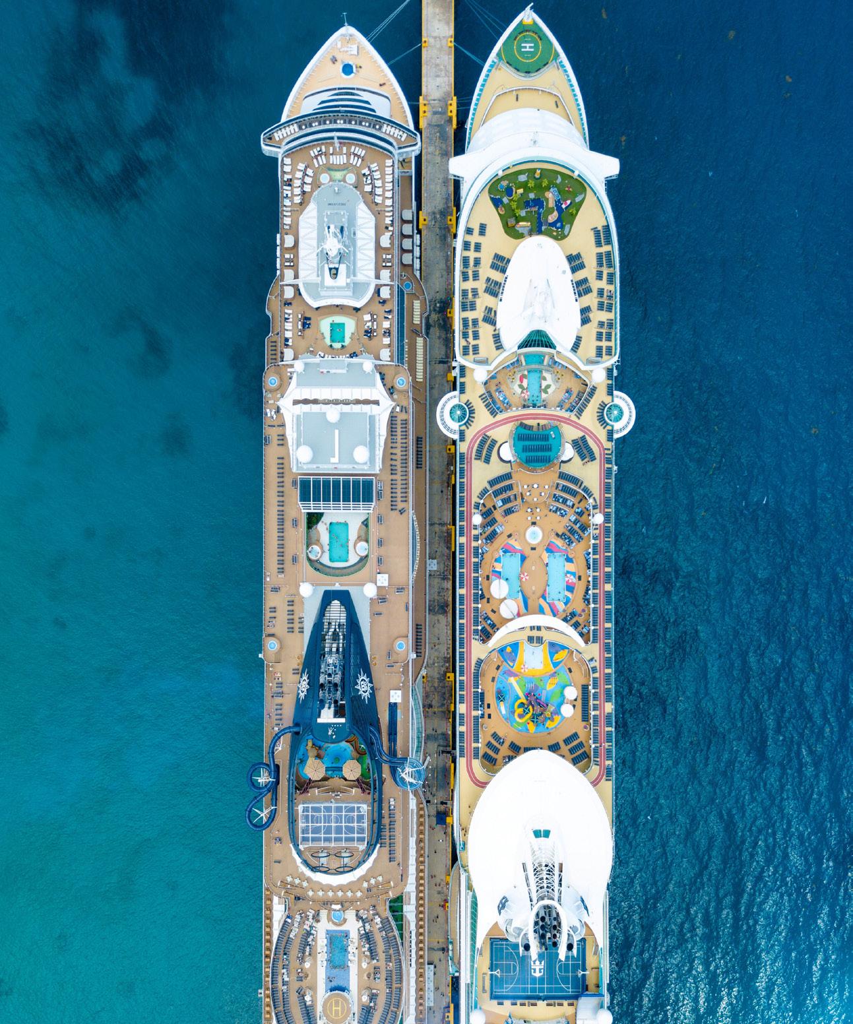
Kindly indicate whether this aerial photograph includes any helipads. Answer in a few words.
Yes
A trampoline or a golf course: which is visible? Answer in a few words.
golf course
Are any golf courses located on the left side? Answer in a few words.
No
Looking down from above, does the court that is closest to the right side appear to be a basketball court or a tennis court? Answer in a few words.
basketball court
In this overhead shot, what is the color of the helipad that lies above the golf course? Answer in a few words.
green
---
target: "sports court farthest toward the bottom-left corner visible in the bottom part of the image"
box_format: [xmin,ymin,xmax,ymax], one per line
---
[297,796,370,848]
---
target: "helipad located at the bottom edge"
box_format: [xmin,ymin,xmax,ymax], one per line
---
[321,986,353,1023]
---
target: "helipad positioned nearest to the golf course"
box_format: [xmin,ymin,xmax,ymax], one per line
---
[495,19,560,75]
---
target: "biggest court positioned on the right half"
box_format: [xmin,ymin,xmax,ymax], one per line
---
[488,933,590,1000]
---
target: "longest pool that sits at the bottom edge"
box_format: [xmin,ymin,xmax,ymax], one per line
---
[325,929,350,993]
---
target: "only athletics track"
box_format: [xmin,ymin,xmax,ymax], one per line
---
[465,413,606,787]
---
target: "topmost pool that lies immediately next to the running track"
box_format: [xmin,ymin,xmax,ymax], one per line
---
[508,359,560,404]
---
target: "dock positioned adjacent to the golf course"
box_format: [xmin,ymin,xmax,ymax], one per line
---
[421,0,454,1024]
